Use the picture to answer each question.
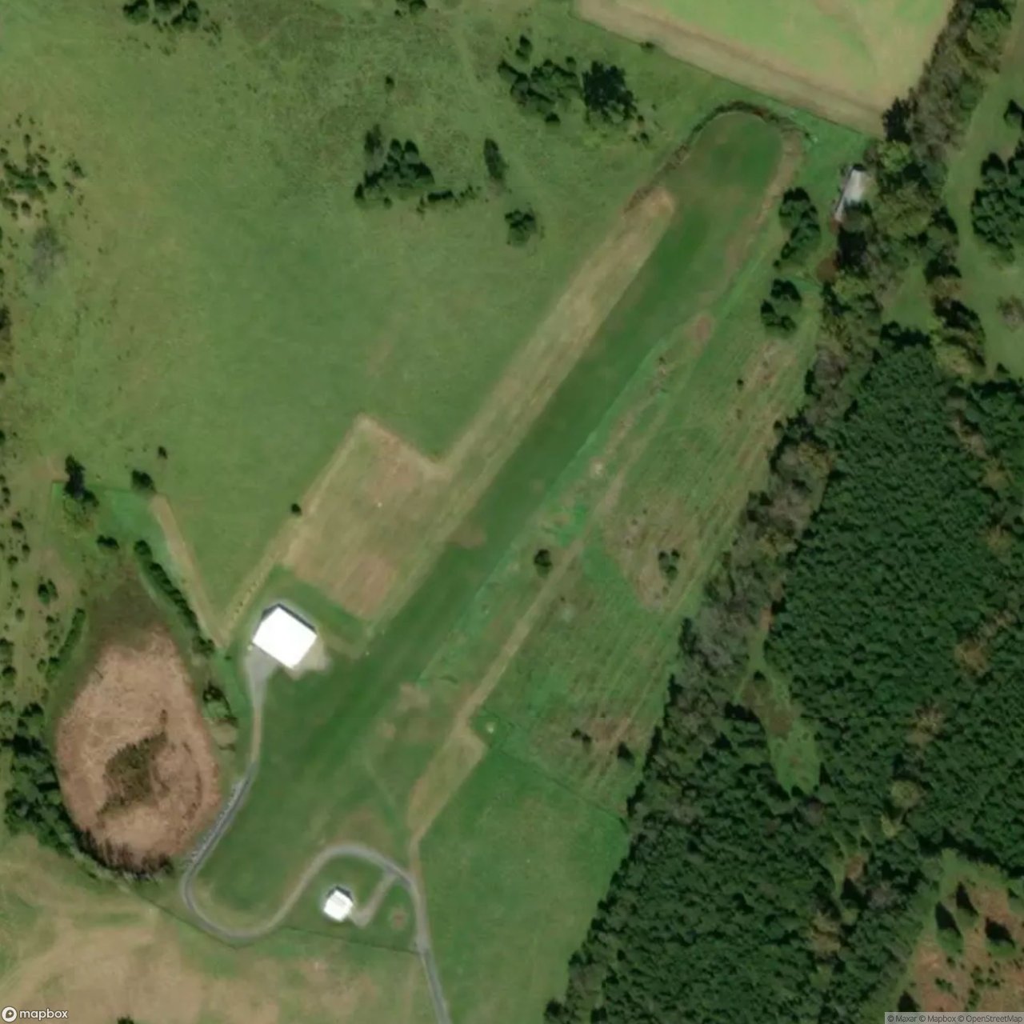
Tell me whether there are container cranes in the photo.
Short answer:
No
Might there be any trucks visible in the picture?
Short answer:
No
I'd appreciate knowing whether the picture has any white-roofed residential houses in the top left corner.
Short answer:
No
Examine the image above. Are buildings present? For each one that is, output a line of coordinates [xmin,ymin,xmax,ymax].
[254,607,317,669]
[835,167,869,219]
[323,891,353,922]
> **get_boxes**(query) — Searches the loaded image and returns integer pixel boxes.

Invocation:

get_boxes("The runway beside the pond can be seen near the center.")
[210,112,782,872]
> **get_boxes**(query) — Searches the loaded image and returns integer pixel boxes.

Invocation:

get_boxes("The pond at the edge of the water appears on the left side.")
[56,626,221,867]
